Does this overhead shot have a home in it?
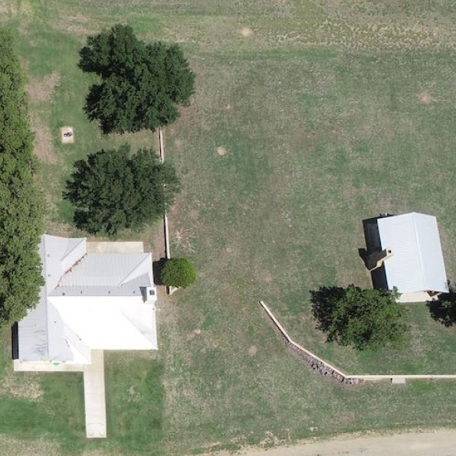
Yes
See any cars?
No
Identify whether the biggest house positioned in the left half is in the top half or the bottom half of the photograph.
bottom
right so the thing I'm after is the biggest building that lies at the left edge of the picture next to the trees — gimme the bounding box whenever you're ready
[17,233,160,367]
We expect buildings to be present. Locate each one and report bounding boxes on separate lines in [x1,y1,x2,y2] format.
[17,233,160,367]
[361,212,449,302]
